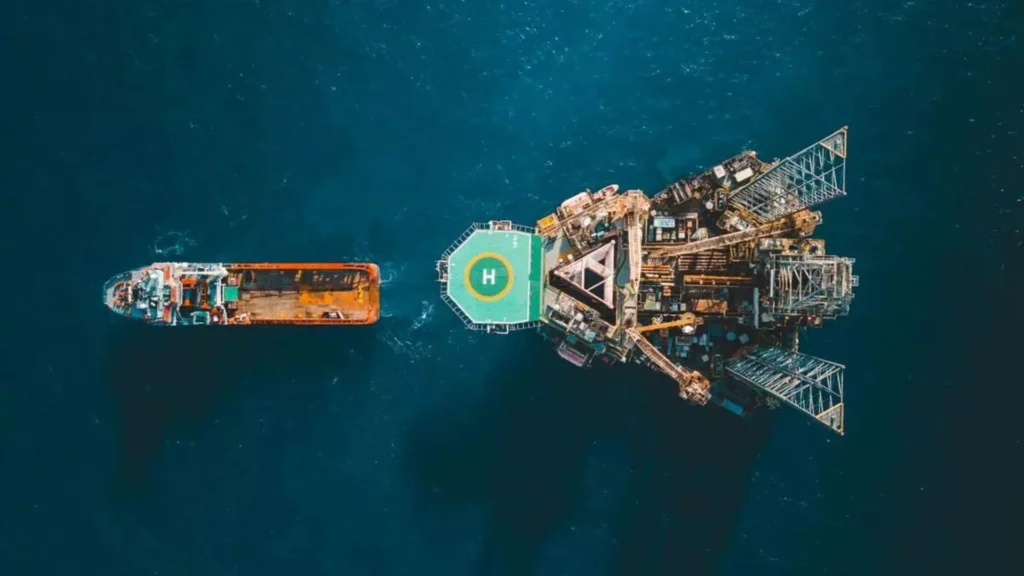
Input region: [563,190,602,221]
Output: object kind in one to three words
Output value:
boat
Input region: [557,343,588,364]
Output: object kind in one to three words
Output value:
boat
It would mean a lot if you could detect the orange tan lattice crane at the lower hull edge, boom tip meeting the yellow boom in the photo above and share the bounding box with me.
[619,322,717,408]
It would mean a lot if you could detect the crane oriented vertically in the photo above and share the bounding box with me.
[609,189,653,299]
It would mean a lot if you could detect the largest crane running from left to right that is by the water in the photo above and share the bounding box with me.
[638,205,826,268]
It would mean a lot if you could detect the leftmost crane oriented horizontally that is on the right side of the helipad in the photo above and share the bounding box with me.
[637,313,703,335]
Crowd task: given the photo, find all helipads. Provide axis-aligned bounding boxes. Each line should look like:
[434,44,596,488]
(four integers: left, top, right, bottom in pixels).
[437,220,546,333]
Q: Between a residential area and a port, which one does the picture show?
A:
port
